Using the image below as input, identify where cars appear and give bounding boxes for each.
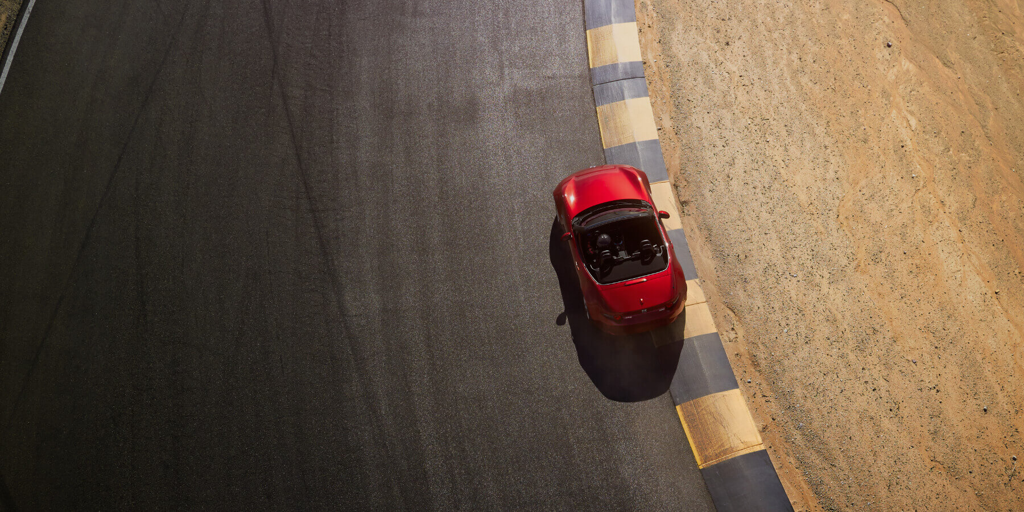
[554,164,687,340]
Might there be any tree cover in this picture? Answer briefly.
No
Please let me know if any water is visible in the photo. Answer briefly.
No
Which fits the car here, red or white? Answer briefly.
red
